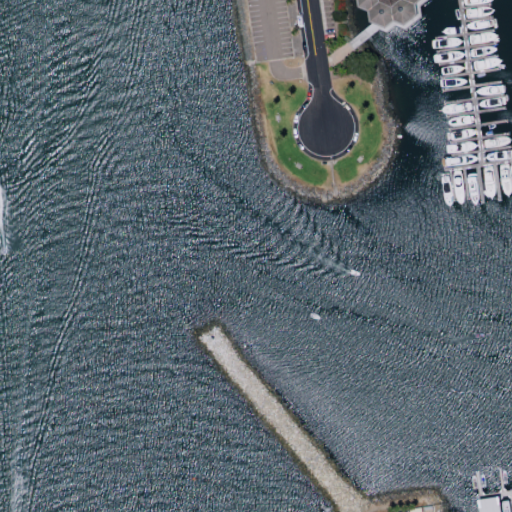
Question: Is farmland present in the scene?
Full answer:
No, no farmland is visible.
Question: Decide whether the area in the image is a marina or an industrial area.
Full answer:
It's a marina.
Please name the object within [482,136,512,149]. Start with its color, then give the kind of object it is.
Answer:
white boat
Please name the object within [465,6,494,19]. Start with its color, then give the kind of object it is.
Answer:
white boat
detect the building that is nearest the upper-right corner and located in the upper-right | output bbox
[355,0,428,33]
